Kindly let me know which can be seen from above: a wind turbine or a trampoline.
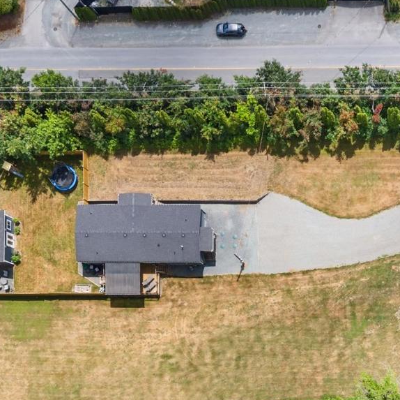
trampoline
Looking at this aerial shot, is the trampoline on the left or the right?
left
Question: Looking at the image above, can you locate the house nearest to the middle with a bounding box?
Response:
[75,193,217,265]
